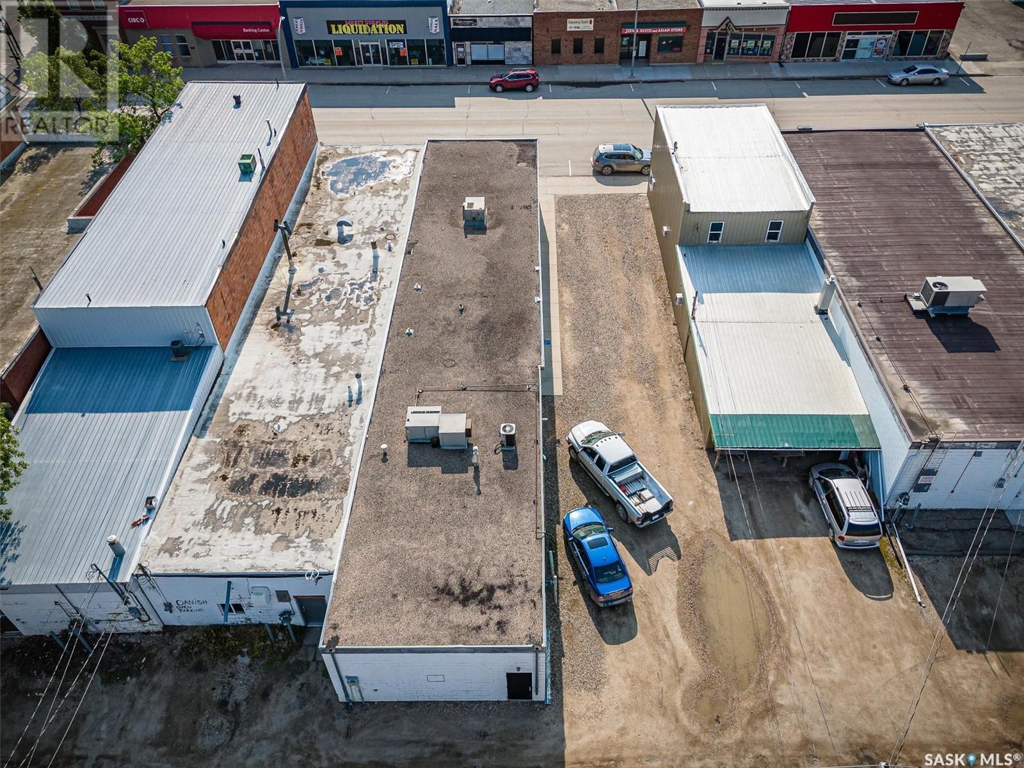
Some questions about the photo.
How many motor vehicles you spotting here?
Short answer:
6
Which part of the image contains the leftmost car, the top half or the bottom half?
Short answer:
top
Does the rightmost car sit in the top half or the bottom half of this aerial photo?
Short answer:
top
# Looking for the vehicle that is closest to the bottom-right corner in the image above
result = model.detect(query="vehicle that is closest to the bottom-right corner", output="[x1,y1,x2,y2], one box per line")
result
[810,462,890,557]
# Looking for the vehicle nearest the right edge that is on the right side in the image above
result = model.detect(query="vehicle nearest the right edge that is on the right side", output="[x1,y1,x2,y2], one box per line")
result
[886,61,951,85]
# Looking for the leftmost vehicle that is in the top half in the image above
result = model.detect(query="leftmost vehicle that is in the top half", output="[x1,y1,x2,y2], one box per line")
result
[487,63,539,90]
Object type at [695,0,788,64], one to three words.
building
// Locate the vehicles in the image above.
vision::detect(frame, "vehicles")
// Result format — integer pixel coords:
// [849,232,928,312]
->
[810,462,890,557]
[593,139,652,173]
[886,61,951,85]
[560,420,675,534]
[564,508,639,607]
[487,63,539,90]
